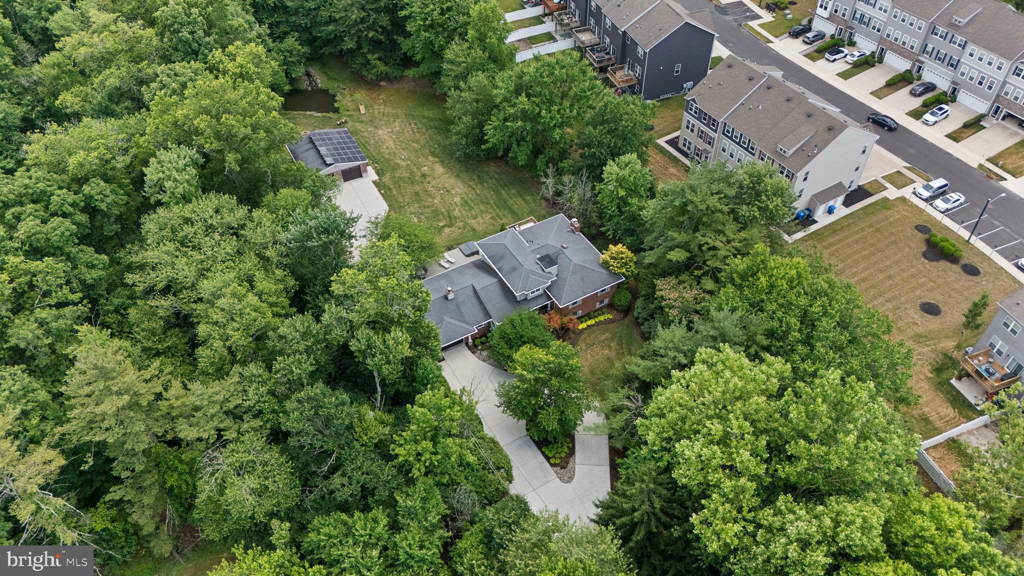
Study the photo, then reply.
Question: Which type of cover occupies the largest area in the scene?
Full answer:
The bulk of the photo consists of trees.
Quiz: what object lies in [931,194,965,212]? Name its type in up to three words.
car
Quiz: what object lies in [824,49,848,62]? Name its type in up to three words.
vehicle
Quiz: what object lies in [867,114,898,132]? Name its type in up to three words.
car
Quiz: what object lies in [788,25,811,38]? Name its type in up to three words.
vehicle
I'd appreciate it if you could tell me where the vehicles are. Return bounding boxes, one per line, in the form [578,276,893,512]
[788,25,811,38]
[844,51,869,64]
[802,30,825,44]
[922,105,949,123]
[909,83,935,97]
[931,194,965,212]
[1012,252,1024,269]
[914,176,950,199]
[867,114,898,132]
[824,49,848,62]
